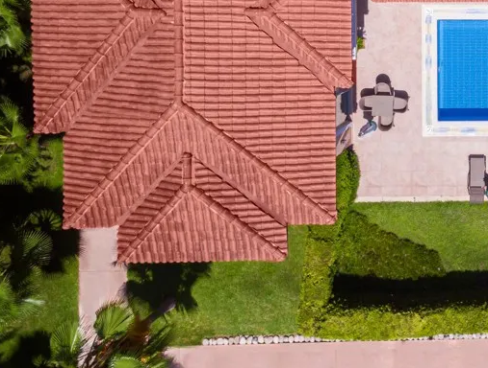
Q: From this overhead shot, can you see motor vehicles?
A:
No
